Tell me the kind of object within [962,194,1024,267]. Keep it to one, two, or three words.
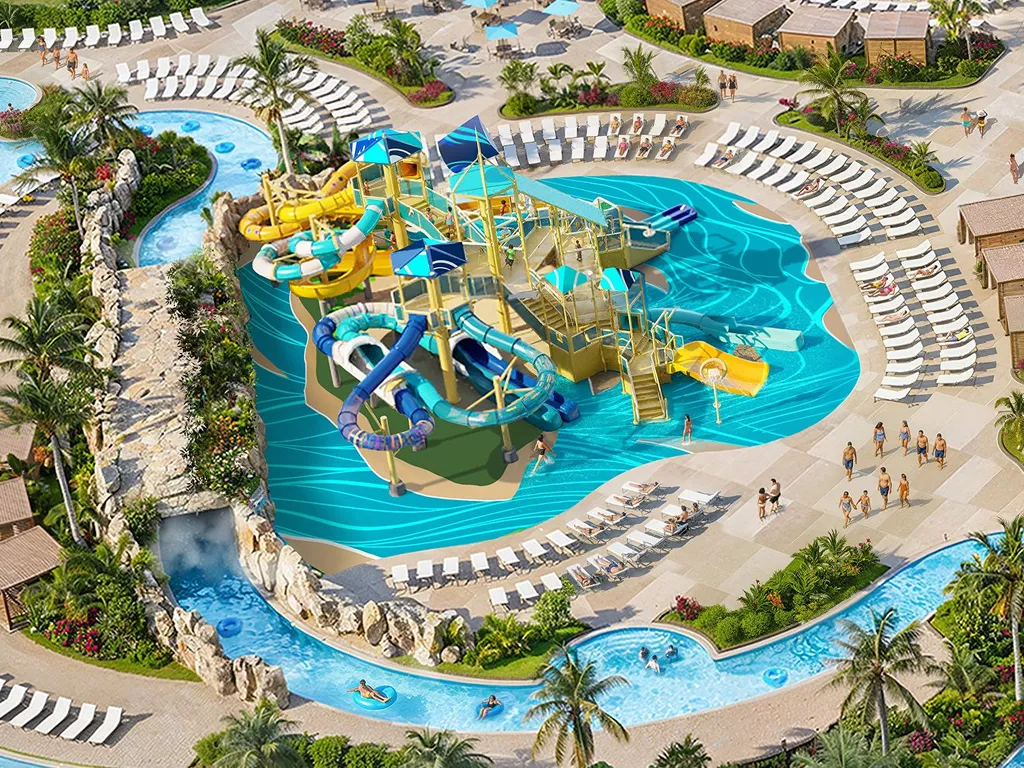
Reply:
shed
